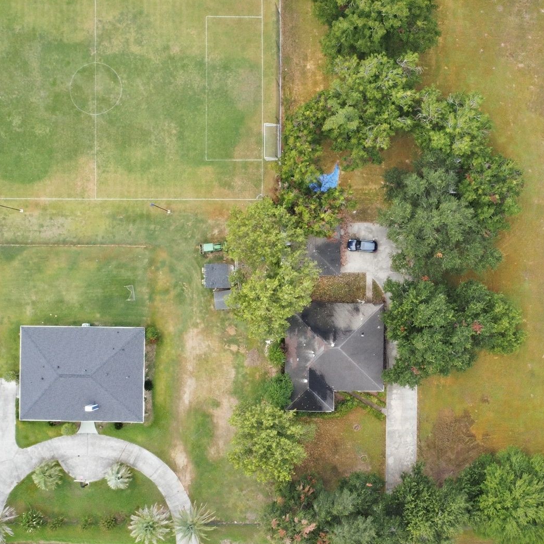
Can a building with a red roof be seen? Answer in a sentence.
No, no building with a red roof is visible in the view.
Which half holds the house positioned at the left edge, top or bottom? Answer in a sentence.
You can find the house positioned at the left edge in the bottom half.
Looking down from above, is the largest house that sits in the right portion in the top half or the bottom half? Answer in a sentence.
The largest house that sits in the right portion is in the bottom half of the image.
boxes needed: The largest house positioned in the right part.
[285,303,384,411]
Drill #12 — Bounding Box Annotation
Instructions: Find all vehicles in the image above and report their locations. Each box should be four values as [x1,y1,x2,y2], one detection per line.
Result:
[348,239,378,252]
[203,243,230,254]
